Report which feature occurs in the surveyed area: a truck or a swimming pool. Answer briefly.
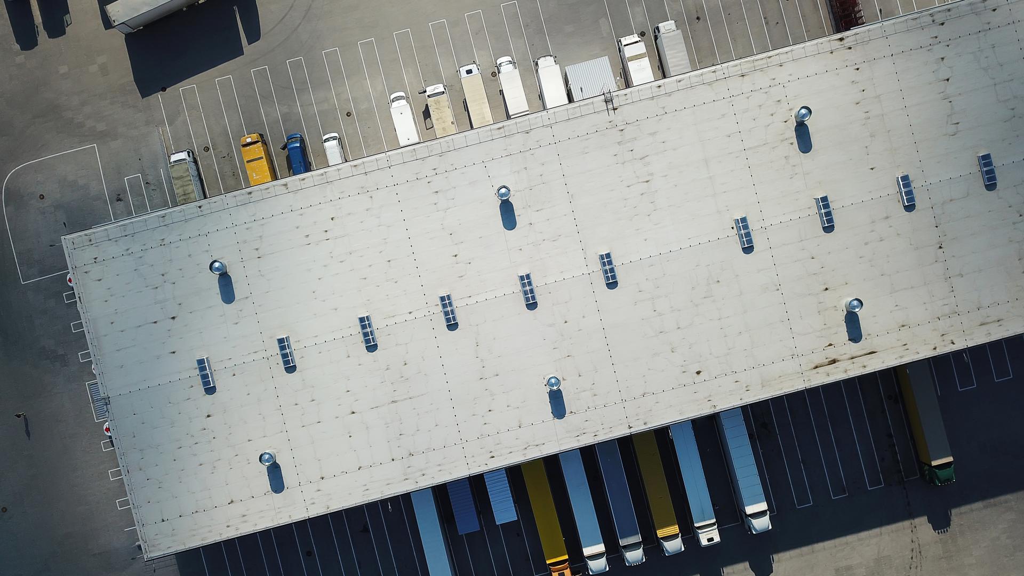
truck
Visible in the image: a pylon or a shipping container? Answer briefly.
shipping container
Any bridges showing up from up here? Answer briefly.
No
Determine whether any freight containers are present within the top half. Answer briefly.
No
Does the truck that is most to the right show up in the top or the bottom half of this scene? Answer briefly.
bottom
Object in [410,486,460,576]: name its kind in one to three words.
trailer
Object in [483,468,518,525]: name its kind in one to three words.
shipping container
